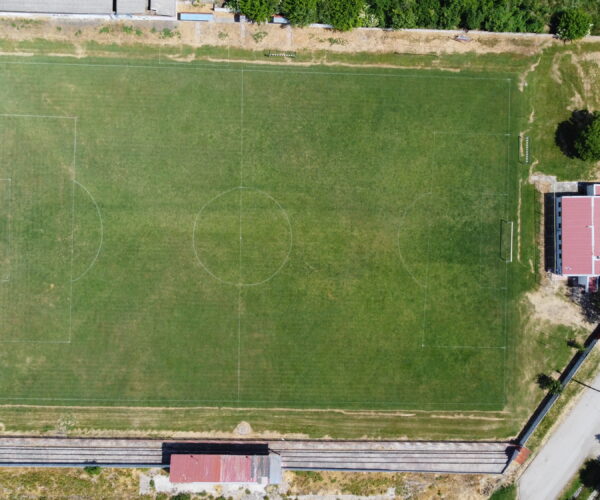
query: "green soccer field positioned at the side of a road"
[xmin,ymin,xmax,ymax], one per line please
[0,61,513,407]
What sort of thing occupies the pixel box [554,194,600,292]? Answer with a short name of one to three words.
building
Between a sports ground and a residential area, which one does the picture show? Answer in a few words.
sports ground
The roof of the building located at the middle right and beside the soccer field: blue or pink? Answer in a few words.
pink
